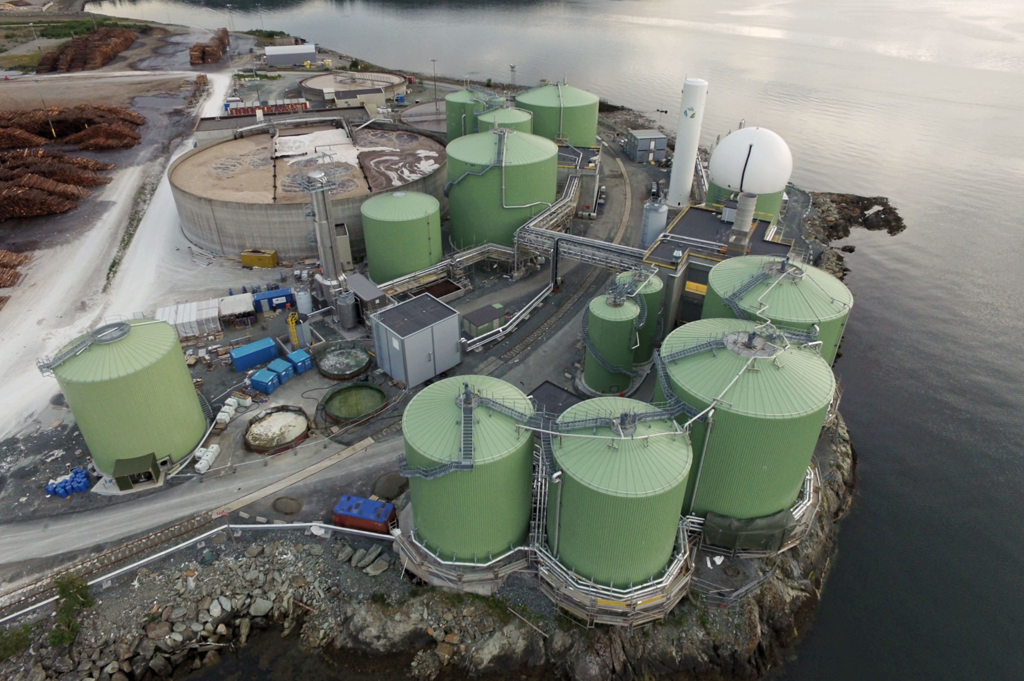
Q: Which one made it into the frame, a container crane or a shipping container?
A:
shipping container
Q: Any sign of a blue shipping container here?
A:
Yes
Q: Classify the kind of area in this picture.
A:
industrial area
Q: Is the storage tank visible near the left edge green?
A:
Yes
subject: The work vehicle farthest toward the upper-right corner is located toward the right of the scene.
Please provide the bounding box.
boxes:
[651,153,672,167]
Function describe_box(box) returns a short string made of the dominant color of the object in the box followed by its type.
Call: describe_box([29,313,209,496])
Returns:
green storage tank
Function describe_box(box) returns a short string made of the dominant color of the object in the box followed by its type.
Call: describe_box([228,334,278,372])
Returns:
blue shipping container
